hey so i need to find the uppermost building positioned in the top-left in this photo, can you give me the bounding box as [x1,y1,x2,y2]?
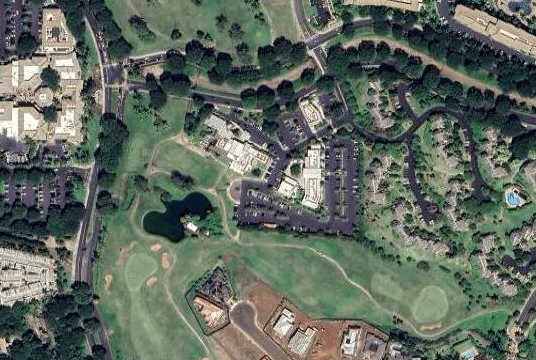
[42,9,78,54]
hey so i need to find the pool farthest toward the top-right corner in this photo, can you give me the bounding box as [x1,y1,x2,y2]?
[507,0,531,15]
